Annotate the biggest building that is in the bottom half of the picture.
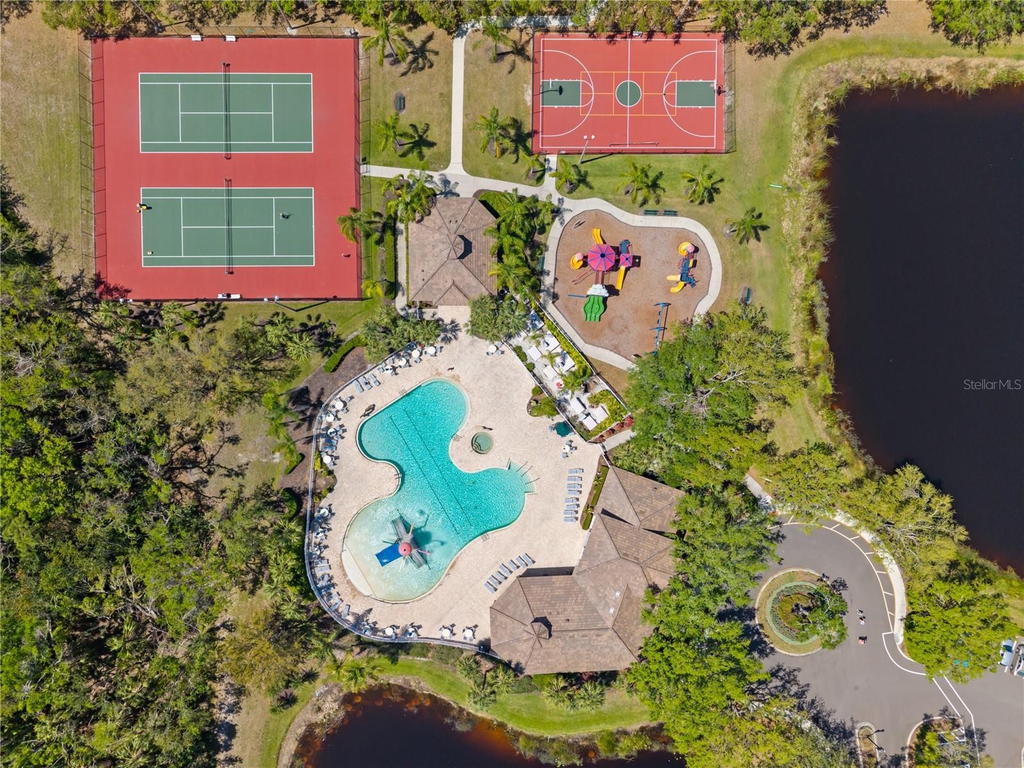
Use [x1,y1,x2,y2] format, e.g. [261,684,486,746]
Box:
[490,466,686,675]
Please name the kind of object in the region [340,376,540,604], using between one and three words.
swimming pool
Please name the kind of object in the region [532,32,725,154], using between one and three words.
basketball court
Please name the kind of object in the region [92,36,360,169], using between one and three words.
tennis court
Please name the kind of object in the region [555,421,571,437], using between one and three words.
umbrella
